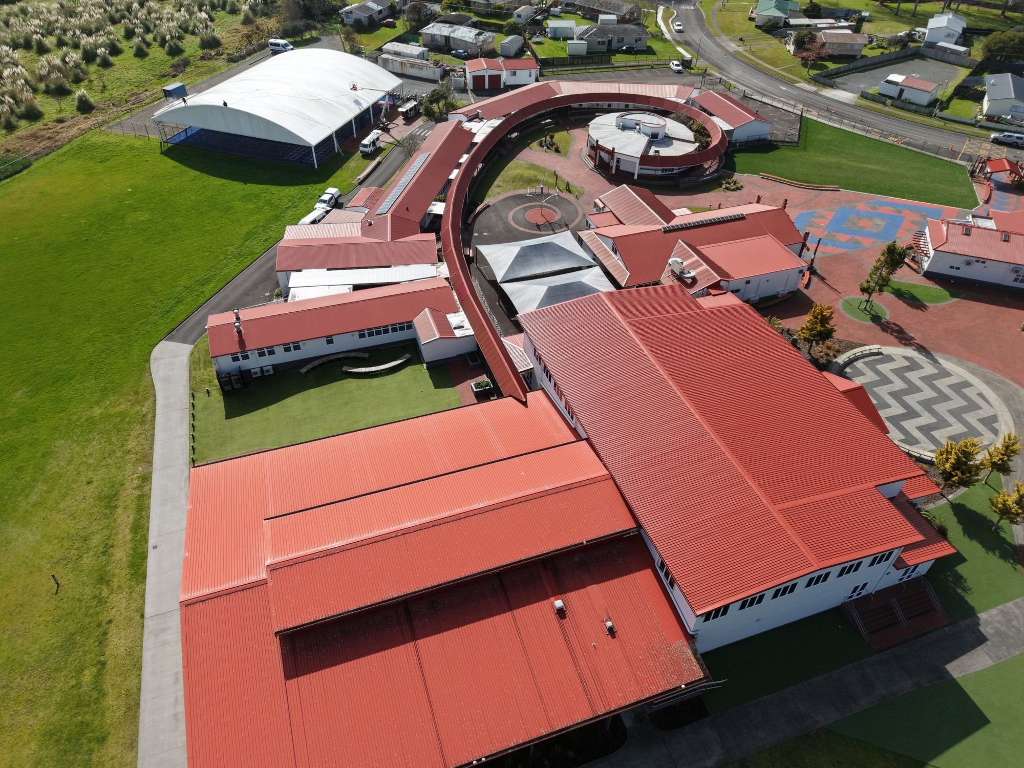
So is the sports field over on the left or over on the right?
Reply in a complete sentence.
It is on the left.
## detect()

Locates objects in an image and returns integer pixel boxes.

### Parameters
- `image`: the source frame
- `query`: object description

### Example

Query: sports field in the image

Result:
[0,136,393,768]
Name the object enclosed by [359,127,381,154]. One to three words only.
vehicle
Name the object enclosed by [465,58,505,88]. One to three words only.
building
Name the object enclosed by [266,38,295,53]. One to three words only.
vehicle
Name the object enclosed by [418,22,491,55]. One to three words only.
house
